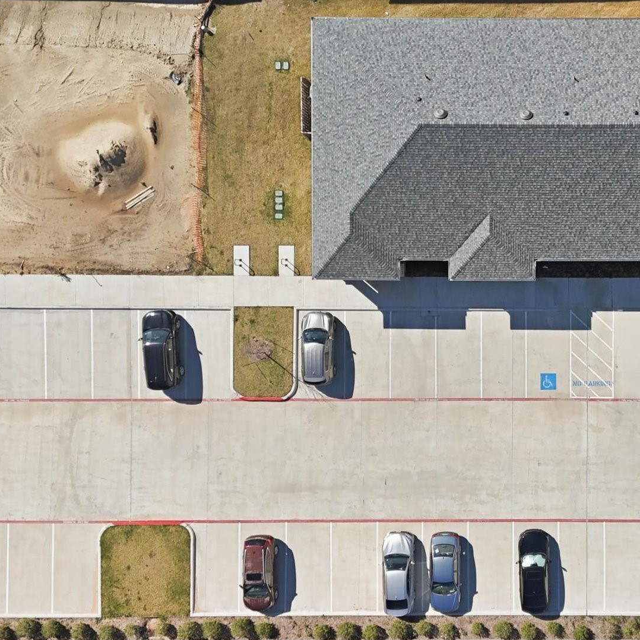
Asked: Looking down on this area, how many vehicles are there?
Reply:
six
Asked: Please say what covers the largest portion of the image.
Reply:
paved ground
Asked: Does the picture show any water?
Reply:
No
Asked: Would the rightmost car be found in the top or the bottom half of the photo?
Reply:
bottom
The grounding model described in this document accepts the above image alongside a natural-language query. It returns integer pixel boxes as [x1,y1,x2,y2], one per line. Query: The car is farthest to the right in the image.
[514,527,551,614]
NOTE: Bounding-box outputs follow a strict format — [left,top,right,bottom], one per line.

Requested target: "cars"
[426,531,462,612]
[237,533,278,609]
[379,530,417,615]
[297,311,336,386]
[137,310,184,389]
[514,527,551,614]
